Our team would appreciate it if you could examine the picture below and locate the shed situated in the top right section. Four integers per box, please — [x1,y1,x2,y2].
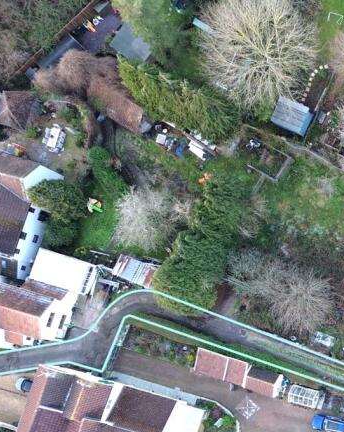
[269,96,313,136]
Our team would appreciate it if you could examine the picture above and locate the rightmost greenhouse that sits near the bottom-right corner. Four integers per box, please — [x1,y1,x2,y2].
[287,383,323,410]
